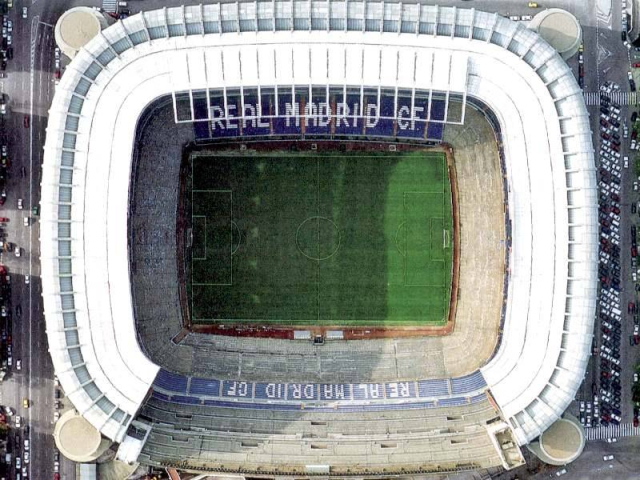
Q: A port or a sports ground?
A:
sports ground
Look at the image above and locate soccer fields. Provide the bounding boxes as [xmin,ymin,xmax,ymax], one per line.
[176,139,459,339]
